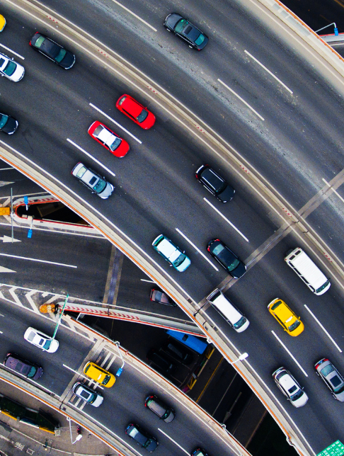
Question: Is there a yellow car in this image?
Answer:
Yes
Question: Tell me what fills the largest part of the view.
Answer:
paved ground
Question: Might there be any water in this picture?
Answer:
No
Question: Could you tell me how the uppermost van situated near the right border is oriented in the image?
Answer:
on a diagonal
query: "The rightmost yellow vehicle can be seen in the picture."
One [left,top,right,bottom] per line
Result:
[267,297,302,336]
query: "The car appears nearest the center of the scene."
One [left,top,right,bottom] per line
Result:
[150,232,191,271]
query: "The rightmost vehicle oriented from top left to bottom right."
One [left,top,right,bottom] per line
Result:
[313,356,344,401]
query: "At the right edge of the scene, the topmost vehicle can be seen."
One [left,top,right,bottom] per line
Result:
[284,246,331,296]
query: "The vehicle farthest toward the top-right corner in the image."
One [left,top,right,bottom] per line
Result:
[163,13,210,51]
